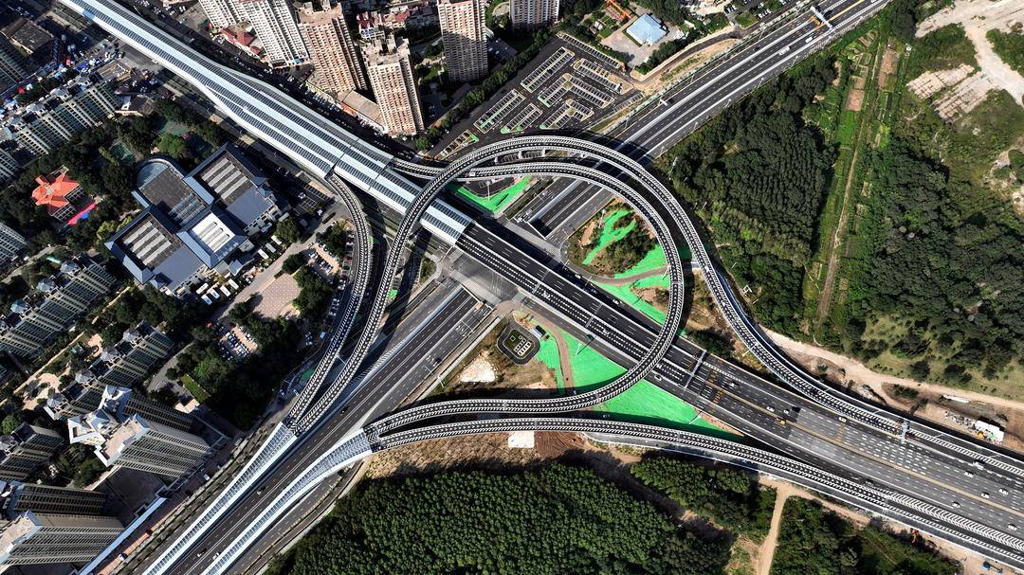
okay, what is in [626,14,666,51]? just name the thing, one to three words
building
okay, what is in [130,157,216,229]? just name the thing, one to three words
building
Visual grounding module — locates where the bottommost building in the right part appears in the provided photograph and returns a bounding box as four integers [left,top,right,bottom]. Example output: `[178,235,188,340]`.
[971,421,1004,442]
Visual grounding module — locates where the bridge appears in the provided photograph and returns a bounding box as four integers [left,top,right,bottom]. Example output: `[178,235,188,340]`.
[58,0,736,410]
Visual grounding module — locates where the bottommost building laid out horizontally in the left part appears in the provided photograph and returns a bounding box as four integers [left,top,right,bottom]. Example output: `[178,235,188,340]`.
[0,510,122,572]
